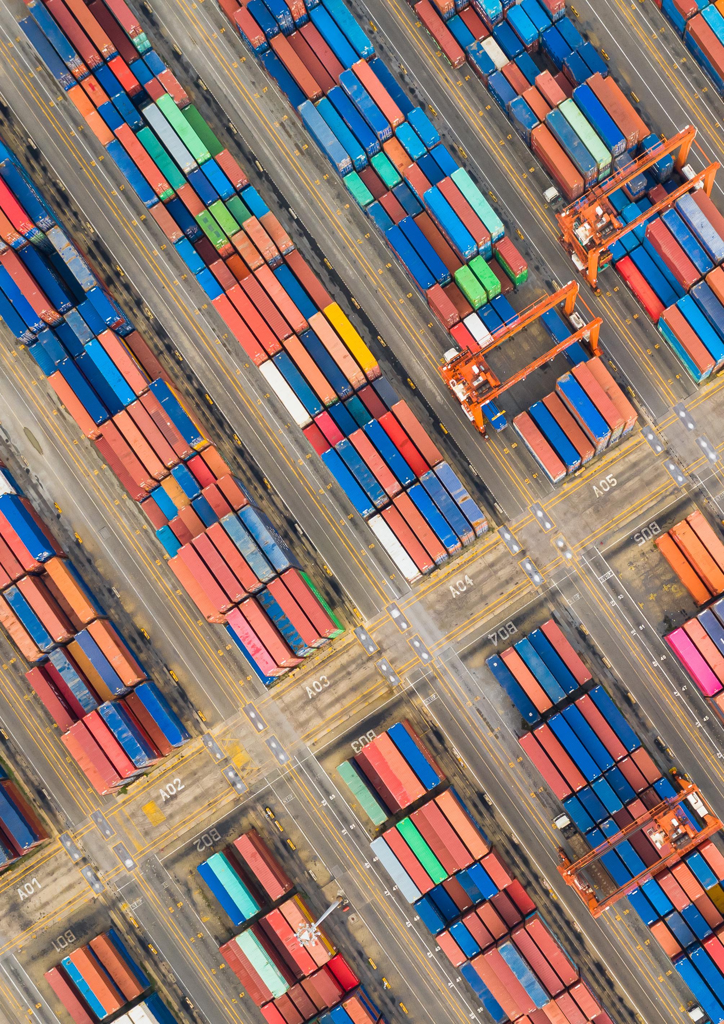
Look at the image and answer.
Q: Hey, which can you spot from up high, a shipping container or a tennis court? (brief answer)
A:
shipping container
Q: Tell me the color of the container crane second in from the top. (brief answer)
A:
orange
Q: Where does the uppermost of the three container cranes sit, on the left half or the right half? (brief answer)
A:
right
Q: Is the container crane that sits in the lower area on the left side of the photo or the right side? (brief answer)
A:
right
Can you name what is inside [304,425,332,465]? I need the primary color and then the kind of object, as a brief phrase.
red shipping container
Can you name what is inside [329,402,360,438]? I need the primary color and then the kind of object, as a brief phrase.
blue shipping container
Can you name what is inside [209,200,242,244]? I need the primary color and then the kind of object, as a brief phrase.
green shipping container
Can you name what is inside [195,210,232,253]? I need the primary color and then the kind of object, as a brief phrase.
green shipping container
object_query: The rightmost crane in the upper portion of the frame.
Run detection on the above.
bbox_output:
[562,116,724,302]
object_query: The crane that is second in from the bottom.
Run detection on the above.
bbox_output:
[441,274,607,445]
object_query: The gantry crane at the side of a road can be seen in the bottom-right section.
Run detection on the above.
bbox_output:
[556,767,724,923]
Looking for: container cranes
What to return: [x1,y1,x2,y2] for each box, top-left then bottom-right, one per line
[562,116,724,302]
[441,274,607,445]
[556,767,724,923]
